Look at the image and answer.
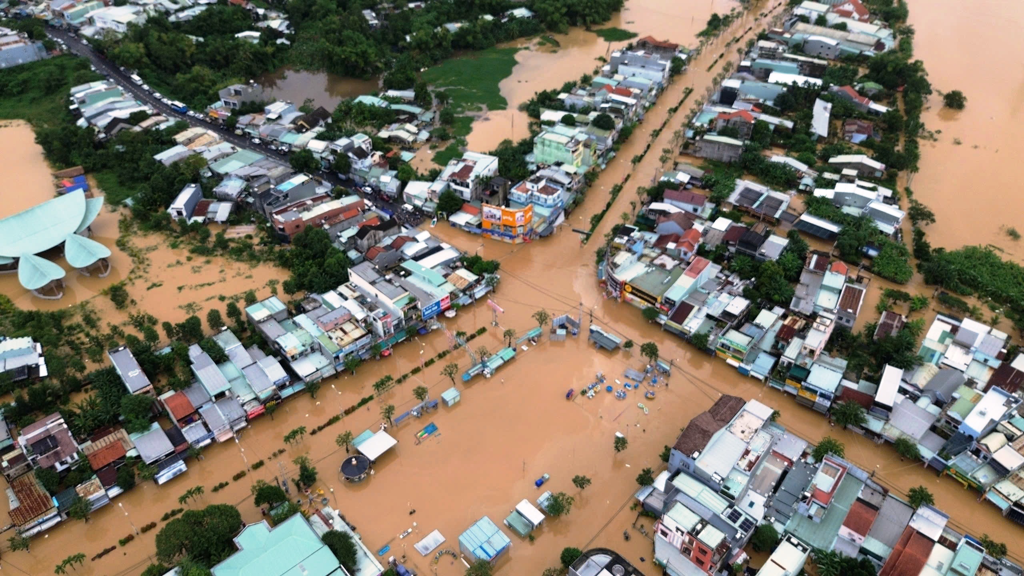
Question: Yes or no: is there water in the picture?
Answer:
Yes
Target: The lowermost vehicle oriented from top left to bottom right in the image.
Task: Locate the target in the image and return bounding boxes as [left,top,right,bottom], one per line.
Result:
[390,551,415,576]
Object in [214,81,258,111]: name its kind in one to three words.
house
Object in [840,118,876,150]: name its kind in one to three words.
shed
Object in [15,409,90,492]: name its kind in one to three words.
house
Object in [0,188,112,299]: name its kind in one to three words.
building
